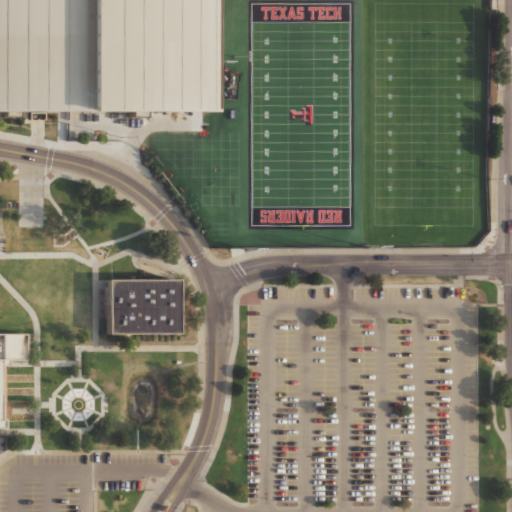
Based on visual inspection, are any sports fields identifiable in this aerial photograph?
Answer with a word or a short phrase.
Yes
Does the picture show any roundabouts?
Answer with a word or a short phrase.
No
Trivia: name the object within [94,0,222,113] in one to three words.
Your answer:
building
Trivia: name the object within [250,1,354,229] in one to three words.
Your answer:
sports field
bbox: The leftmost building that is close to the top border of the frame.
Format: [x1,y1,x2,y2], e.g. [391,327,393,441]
[0,0,100,113]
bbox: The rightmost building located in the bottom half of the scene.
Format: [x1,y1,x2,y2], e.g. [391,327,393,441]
[108,280,184,334]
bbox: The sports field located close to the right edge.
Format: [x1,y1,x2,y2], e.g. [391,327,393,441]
[362,0,488,247]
